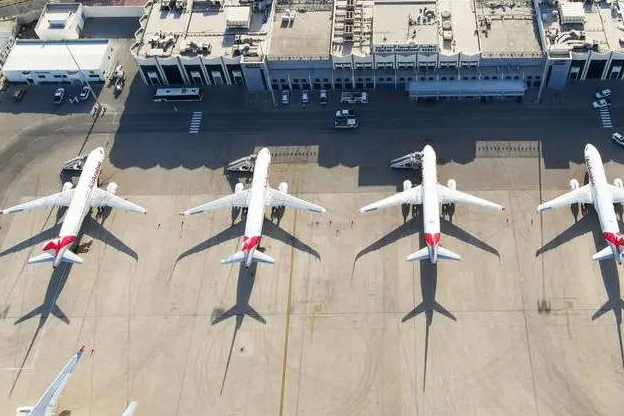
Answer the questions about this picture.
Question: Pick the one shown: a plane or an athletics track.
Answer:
plane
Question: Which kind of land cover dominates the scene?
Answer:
paved ground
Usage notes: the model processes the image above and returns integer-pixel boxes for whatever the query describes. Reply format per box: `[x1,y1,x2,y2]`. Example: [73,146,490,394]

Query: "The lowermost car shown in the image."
[610,133,624,146]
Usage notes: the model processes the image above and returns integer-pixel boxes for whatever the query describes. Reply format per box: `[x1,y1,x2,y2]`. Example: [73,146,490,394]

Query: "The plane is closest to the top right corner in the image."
[537,144,624,262]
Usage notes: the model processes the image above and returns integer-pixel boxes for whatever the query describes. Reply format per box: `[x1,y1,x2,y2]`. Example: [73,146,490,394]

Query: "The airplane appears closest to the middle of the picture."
[184,146,325,266]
